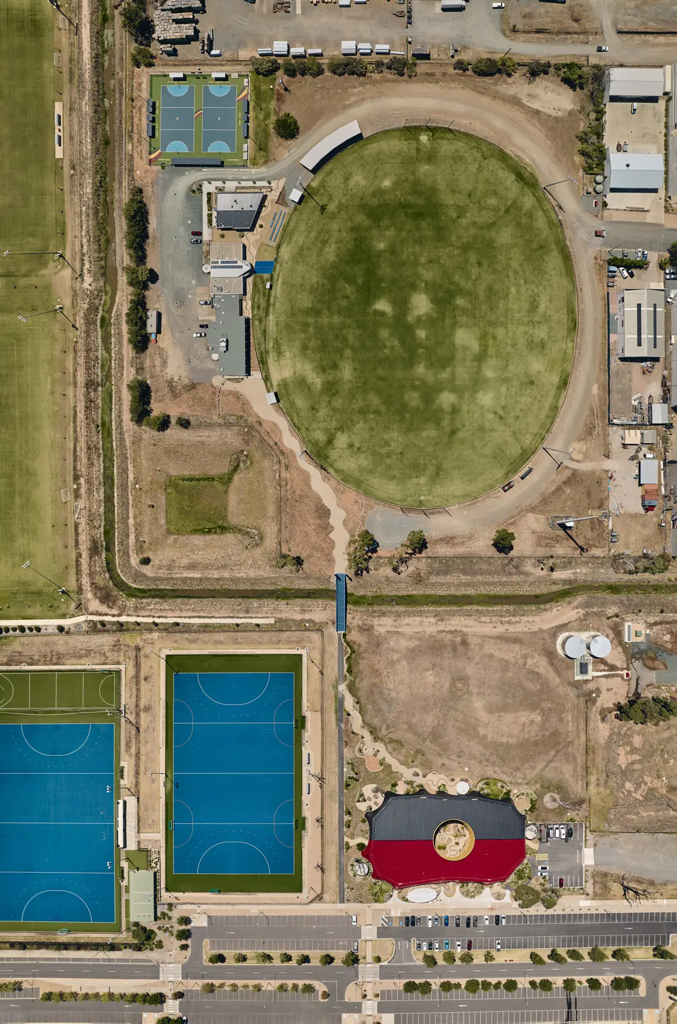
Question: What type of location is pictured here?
sports ground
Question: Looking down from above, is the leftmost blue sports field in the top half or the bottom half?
bottom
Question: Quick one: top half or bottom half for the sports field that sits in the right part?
top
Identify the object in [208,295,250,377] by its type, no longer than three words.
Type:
building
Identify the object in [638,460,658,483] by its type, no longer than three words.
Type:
shed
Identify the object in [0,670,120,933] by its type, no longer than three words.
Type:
sports field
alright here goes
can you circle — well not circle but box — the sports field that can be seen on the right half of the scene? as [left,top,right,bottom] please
[266,126,577,509]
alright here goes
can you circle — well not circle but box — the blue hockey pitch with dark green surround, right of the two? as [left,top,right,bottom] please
[166,654,305,892]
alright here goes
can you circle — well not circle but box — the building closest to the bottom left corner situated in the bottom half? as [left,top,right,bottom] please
[130,866,157,921]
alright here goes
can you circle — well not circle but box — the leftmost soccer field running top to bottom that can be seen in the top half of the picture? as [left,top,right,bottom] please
[0,0,72,619]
